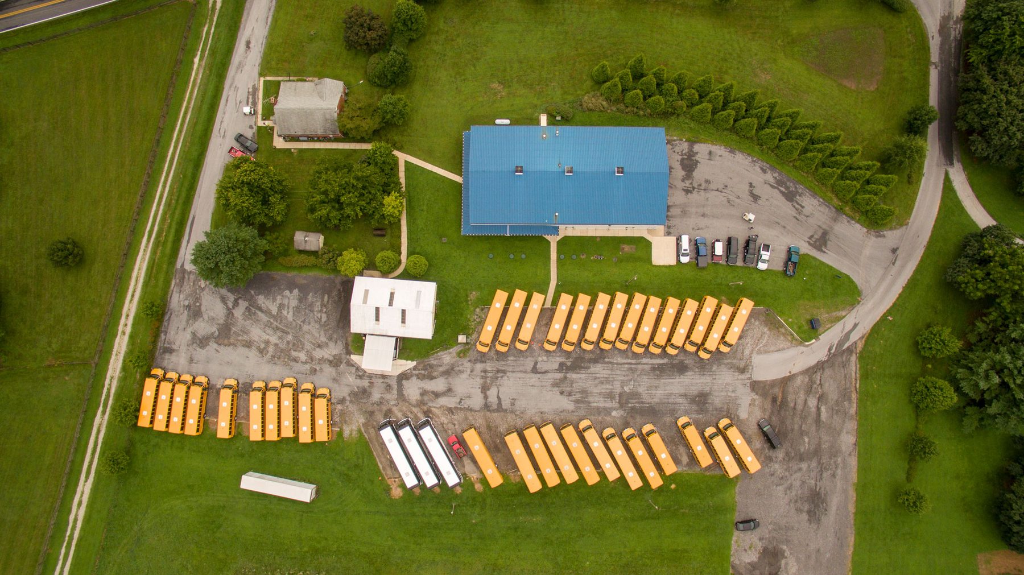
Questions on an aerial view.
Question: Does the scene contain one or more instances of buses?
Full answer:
Yes, I can see a bus in this picture.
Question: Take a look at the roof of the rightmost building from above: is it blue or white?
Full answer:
In this view, the roof of the rightmost building is blue.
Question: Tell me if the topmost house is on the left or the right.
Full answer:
It is on the left.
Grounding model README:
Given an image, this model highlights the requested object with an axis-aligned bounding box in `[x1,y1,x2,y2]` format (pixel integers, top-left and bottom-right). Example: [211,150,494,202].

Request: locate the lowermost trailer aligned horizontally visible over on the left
[240,471,316,502]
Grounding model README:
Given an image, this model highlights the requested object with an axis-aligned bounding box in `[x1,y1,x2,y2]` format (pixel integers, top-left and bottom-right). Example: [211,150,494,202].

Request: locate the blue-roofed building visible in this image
[459,124,670,238]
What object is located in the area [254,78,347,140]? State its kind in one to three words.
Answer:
house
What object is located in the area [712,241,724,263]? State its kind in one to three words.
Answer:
vehicle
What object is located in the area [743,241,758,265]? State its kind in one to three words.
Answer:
vehicle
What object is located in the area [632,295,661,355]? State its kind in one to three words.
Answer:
bus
